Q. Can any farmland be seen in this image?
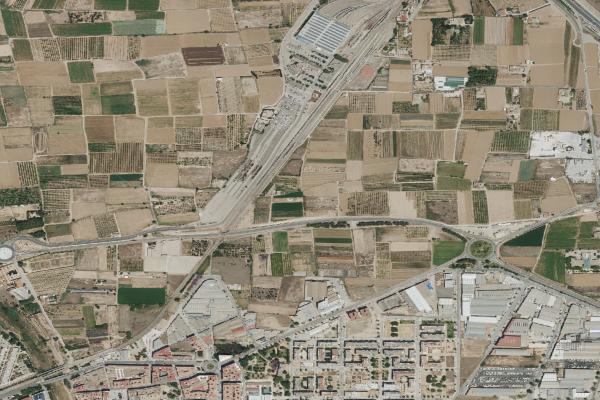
Yes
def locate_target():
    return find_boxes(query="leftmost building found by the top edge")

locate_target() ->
[295,11,351,52]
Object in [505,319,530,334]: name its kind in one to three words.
building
